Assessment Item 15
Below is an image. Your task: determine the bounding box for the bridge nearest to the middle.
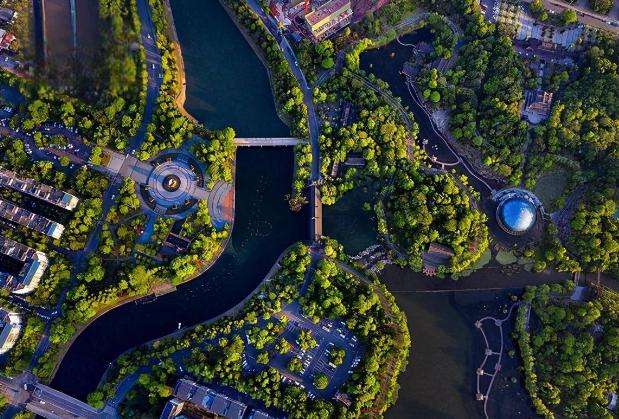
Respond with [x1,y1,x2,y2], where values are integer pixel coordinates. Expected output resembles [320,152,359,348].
[309,184,323,247]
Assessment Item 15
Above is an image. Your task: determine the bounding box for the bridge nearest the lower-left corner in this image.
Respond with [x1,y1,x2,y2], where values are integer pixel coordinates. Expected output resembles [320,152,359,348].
[20,379,109,419]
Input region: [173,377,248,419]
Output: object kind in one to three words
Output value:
building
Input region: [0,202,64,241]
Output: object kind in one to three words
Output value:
building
